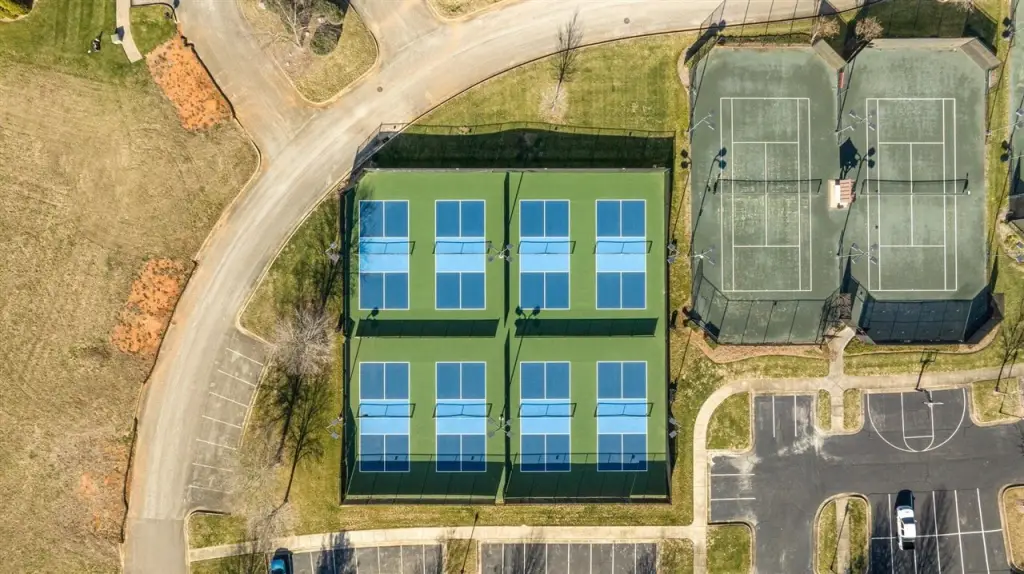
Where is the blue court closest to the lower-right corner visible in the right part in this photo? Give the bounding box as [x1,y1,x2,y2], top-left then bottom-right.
[597,362,648,472]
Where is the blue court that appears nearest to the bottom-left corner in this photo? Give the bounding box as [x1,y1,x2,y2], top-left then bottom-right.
[360,362,410,472]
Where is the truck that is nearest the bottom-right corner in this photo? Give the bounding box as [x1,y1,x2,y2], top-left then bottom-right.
[894,503,917,550]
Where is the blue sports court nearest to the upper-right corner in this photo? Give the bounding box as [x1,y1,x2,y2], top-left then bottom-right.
[596,200,646,310]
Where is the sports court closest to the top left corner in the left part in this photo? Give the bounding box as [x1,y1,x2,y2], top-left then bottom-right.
[359,200,410,310]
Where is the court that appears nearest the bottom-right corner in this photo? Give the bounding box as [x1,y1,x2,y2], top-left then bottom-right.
[868,389,965,452]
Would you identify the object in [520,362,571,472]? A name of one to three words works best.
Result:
sports court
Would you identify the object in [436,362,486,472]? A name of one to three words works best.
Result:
sports court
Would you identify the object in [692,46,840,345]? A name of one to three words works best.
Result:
tennis court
